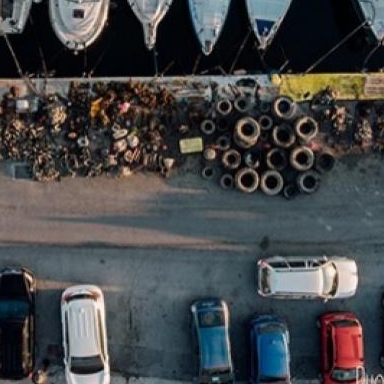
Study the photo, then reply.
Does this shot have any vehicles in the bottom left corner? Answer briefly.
Yes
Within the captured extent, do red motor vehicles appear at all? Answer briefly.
Yes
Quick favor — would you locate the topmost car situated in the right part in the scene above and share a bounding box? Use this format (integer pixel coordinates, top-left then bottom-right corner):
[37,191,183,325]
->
[253,251,357,304]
